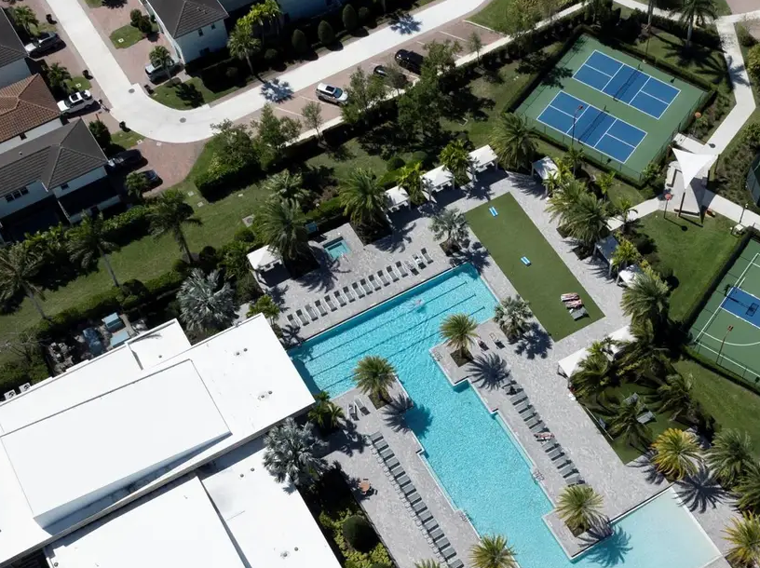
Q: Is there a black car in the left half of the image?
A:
Yes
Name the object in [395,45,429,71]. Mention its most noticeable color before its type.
black car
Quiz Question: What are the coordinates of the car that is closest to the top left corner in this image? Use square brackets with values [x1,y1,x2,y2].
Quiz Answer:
[26,33,62,57]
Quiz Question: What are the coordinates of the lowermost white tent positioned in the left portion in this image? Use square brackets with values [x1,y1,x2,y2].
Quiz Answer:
[249,243,285,283]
